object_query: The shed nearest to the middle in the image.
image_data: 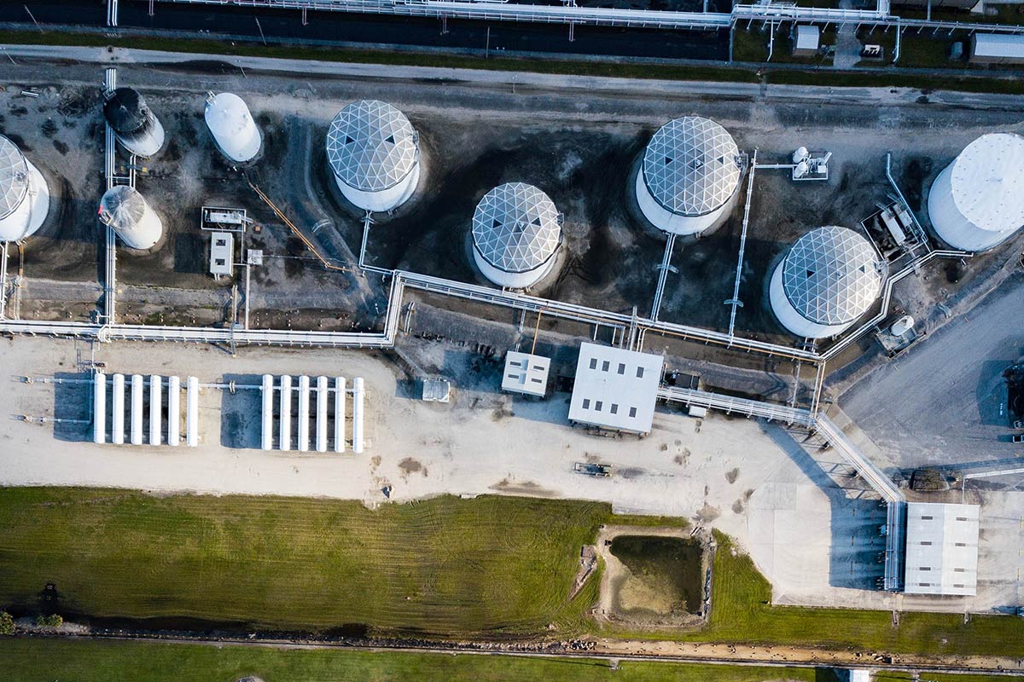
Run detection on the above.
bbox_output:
[502,351,551,400]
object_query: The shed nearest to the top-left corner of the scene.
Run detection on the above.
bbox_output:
[210,232,236,281]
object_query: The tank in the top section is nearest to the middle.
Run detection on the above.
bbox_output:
[472,181,567,288]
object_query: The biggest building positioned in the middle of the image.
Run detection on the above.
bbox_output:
[569,342,664,438]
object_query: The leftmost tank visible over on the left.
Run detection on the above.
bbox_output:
[0,136,51,241]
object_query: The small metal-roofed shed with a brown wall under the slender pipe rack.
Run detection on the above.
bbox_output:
[793,24,820,55]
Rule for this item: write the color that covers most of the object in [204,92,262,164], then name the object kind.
white storage tank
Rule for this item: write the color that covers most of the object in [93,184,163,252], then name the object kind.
white storage tank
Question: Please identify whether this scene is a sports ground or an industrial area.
industrial area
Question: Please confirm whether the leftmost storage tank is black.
No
